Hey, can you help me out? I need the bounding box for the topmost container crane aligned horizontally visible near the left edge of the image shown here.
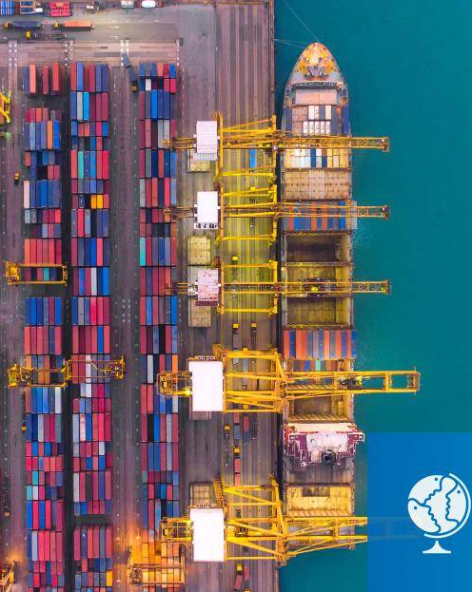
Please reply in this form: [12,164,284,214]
[6,262,73,289]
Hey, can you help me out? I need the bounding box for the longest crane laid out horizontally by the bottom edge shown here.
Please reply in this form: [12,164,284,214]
[156,479,424,569]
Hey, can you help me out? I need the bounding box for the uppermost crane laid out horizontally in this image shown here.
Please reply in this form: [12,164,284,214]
[156,114,389,182]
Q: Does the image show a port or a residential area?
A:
port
